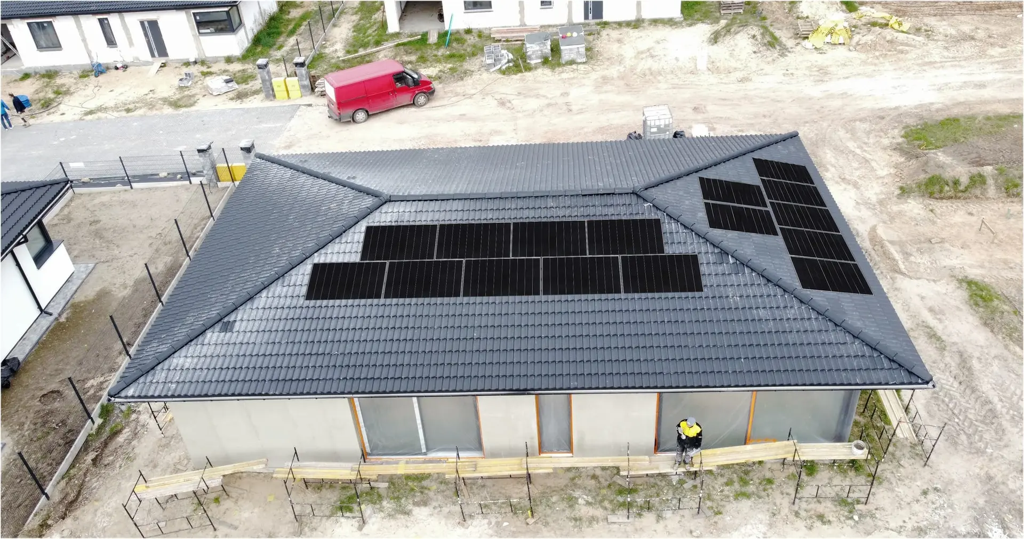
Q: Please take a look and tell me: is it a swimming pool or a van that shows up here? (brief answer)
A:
van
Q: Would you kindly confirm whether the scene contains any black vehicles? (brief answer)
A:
No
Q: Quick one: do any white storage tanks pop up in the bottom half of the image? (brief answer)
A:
No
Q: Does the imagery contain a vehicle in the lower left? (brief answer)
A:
No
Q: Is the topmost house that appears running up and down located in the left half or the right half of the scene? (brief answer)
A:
left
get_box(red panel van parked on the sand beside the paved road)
[322,56,438,122]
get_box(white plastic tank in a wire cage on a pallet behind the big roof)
[640,99,675,138]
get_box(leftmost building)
[0,179,74,361]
